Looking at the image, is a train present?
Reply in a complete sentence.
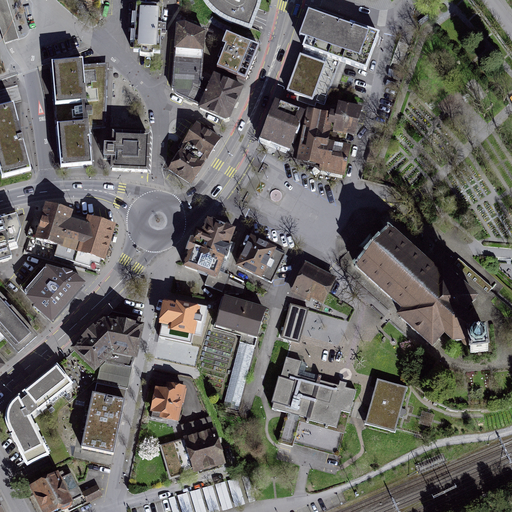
No, no train is visible in the view.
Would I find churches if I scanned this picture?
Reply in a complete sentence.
Yes, I can see a church in this picture.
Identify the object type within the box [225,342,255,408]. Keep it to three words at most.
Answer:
shed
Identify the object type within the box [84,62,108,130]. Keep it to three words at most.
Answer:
building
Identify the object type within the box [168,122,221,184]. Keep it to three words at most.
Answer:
house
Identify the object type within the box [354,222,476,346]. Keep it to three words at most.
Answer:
church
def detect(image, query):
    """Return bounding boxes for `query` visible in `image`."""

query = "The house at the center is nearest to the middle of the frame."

[236,234,284,284]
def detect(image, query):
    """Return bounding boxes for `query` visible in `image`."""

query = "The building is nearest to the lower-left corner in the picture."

[30,470,86,512]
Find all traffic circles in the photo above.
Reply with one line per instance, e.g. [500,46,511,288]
[126,190,188,253]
